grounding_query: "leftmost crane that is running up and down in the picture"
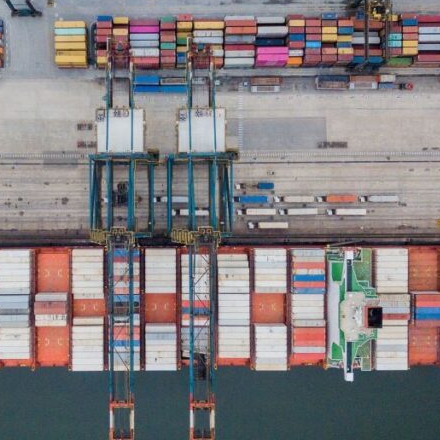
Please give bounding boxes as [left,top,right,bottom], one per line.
[88,44,166,440]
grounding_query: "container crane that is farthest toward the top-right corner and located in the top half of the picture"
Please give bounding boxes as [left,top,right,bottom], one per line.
[346,0,392,78]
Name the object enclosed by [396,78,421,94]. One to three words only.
work vehicle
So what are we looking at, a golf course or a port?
port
